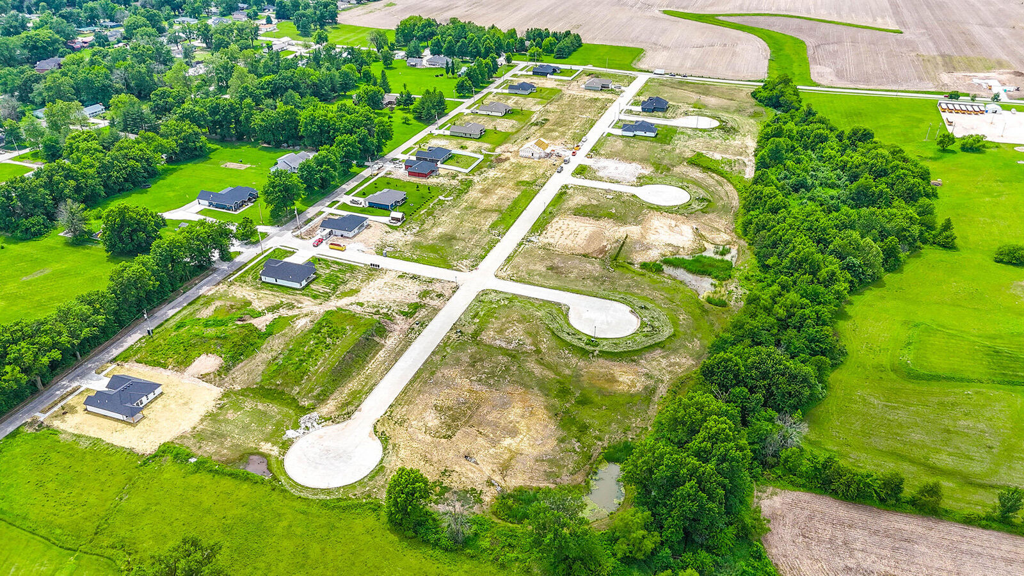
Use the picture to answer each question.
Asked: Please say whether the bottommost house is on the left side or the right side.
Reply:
left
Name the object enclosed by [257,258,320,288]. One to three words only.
house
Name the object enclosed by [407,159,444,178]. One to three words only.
house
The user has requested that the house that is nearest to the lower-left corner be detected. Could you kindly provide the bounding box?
[83,373,163,423]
